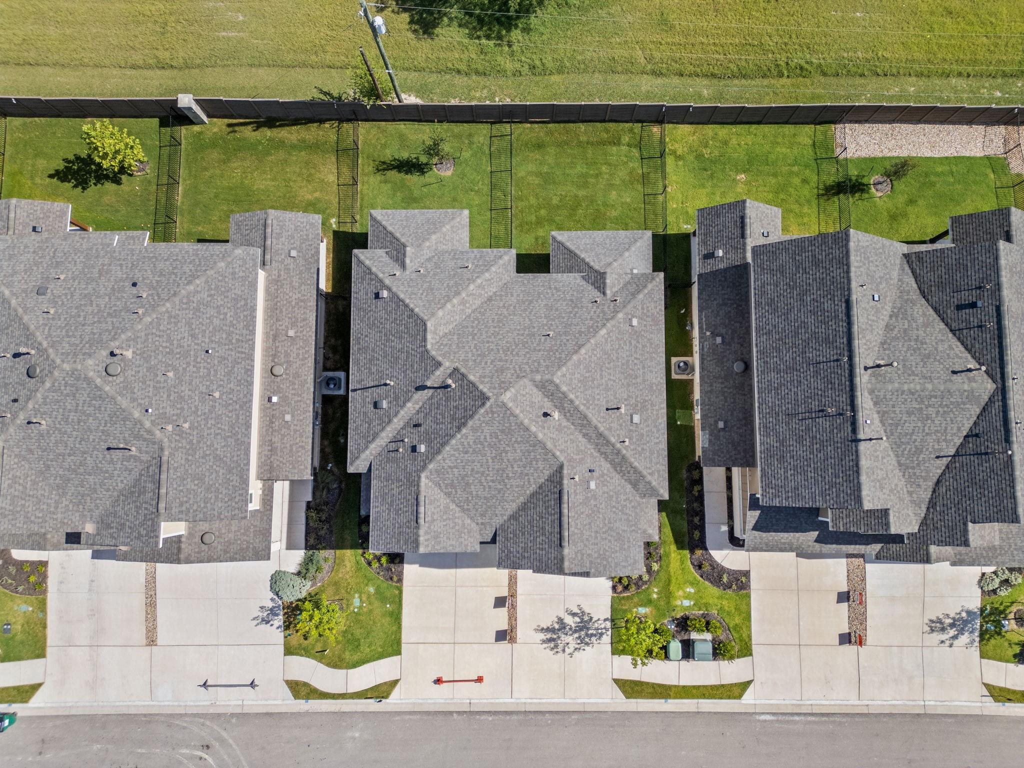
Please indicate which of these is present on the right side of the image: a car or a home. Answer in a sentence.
What appears on the right side of the image is a home.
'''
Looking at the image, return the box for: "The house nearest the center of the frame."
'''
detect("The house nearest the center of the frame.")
[346,208,670,577]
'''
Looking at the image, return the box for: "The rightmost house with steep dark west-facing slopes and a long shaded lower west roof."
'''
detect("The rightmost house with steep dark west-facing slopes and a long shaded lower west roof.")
[693,199,1024,568]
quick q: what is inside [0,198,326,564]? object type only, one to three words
house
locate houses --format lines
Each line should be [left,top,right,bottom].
[346,208,670,577]
[693,199,1024,568]
[0,198,326,564]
